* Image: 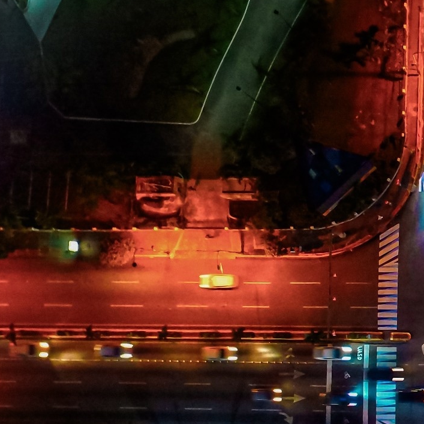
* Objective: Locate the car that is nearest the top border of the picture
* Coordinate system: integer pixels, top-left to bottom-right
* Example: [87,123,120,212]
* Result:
[199,272,238,290]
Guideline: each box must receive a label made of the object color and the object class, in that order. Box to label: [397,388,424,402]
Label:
black car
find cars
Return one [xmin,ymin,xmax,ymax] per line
[251,388,285,403]
[204,346,240,361]
[315,346,353,362]
[199,272,238,290]
[397,388,424,402]
[368,367,405,381]
[97,343,135,358]
[324,391,361,405]
[16,342,52,357]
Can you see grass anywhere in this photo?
Yes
